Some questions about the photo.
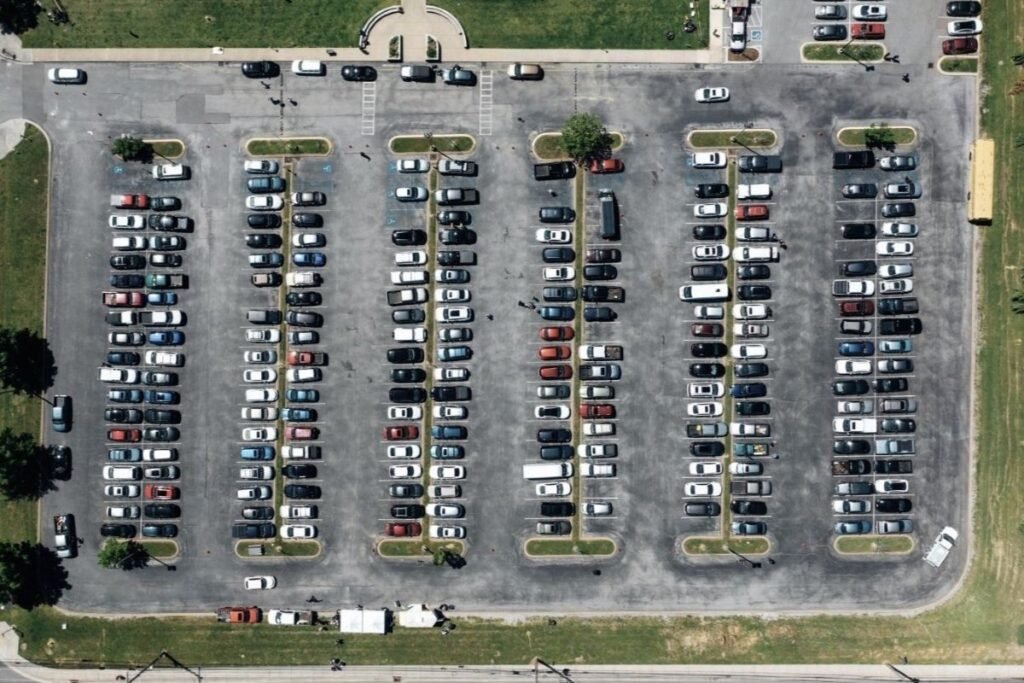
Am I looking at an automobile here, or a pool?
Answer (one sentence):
It is an automobile that can be seen here.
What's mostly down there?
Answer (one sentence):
For the most part, this view shows paved ground.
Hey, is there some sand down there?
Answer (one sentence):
No, the scene doesn't show any sand.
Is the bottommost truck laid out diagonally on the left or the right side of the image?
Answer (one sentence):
The bottommost truck laid out diagonally sits on the right side.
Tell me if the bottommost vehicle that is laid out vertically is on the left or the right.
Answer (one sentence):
The bottommost vehicle that is laid out vertically appears in the left half of the scene.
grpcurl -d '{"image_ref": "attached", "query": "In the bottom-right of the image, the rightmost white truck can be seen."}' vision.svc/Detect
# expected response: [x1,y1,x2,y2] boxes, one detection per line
[924,525,958,567]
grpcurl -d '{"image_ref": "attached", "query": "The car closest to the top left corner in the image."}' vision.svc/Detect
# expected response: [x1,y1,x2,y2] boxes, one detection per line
[47,67,84,84]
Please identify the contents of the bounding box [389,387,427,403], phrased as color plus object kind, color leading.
black car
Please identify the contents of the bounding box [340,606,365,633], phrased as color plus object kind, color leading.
white tent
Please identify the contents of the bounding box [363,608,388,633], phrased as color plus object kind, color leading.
white tent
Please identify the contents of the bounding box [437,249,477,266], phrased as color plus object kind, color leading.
gray vehicle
